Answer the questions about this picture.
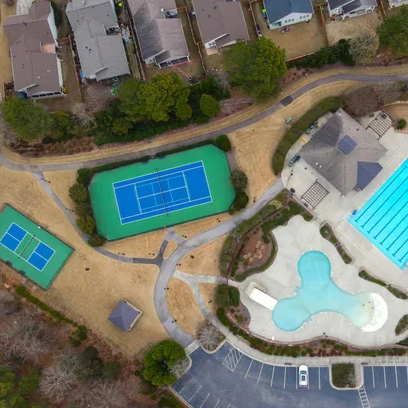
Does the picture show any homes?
Yes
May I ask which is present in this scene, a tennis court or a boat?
tennis court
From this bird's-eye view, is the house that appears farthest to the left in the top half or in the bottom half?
top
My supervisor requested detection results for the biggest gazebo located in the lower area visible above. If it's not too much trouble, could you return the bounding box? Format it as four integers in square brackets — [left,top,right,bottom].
[107,298,146,332]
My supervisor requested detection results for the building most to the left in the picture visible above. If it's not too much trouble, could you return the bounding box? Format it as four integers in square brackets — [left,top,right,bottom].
[4,2,64,98]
